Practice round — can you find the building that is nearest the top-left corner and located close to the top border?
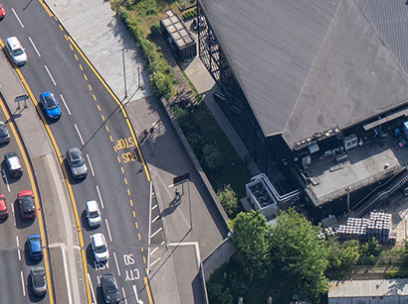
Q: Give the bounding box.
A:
[160,14,197,62]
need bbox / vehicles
[0,195,8,221]
[40,92,61,120]
[5,36,28,65]
[18,191,36,220]
[92,236,109,263]
[4,154,22,178]
[29,268,47,297]
[0,4,5,19]
[0,122,8,145]
[66,148,87,178]
[25,237,42,262]
[85,201,103,229]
